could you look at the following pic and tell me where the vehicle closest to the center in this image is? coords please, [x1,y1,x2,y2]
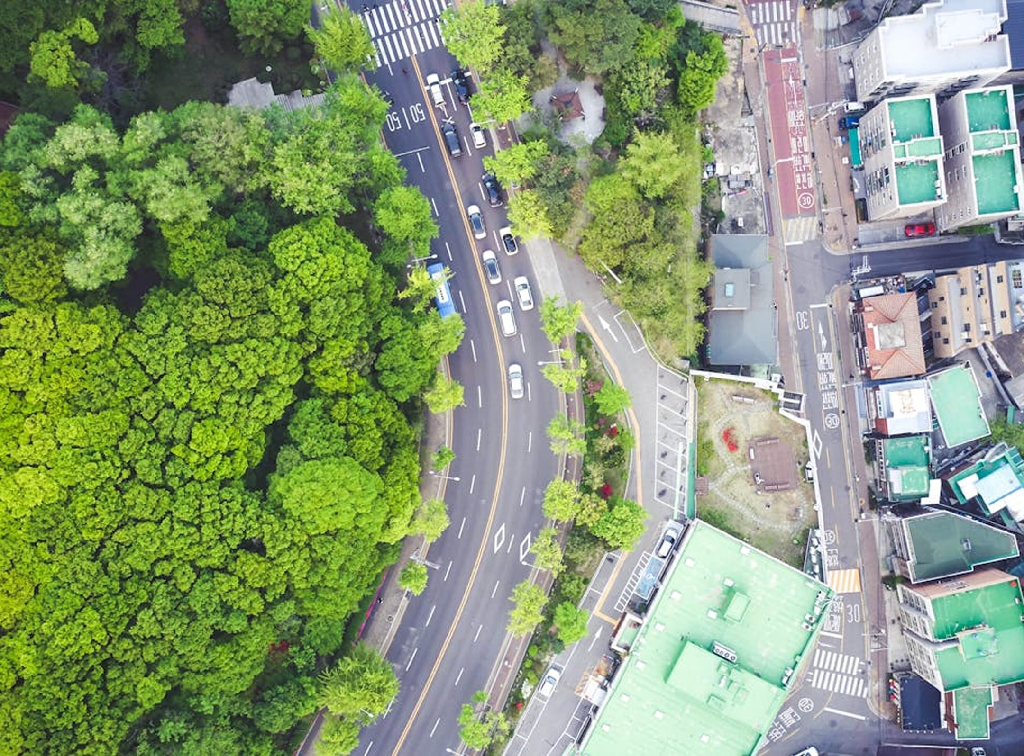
[507,362,525,399]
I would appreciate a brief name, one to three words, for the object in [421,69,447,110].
truck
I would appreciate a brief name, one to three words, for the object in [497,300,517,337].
car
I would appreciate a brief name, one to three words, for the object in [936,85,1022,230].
building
